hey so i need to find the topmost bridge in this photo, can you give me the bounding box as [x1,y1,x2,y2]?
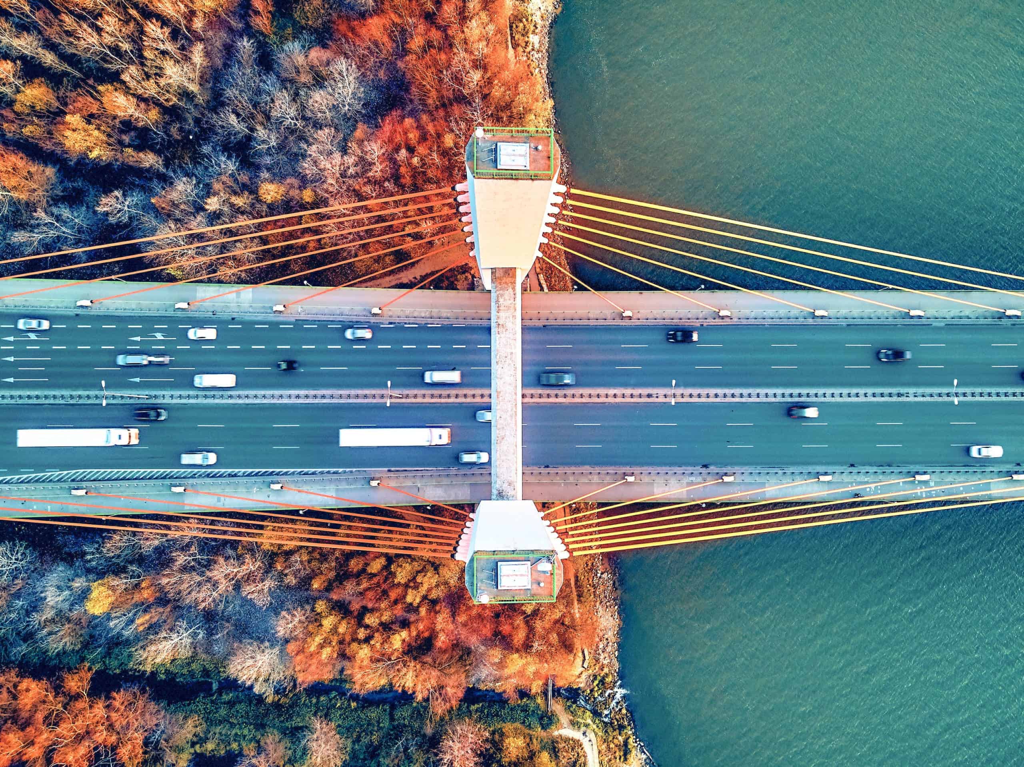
[0,128,1024,604]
